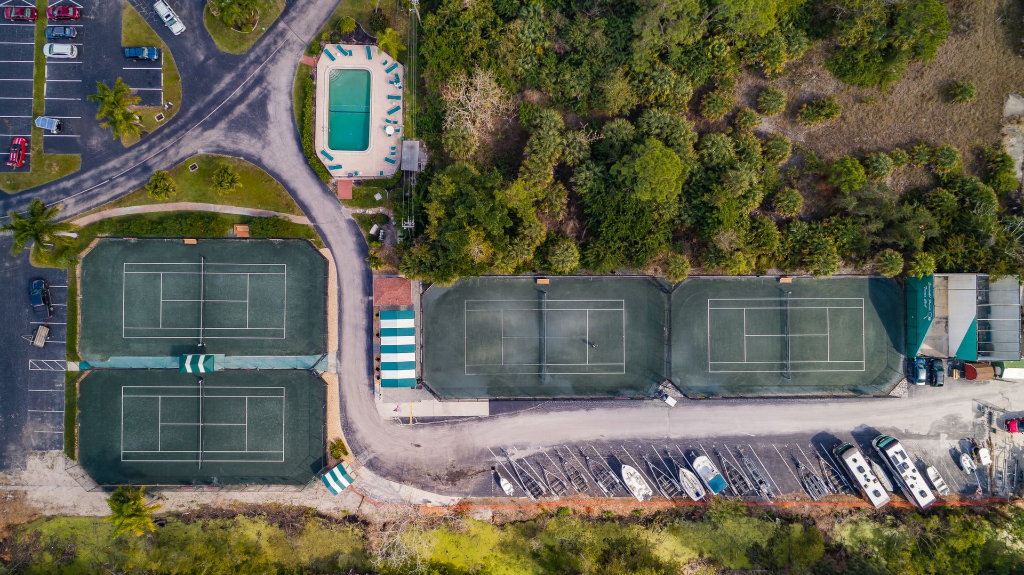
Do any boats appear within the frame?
Yes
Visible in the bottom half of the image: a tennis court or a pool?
tennis court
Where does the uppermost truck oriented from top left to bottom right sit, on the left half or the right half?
left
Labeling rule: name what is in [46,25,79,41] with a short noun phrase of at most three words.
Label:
car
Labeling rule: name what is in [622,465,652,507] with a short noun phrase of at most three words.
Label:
boat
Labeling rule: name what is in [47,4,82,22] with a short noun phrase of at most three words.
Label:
car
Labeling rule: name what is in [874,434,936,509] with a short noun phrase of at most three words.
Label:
camper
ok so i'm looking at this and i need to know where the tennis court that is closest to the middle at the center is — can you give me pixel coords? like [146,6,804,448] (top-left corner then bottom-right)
[423,277,666,400]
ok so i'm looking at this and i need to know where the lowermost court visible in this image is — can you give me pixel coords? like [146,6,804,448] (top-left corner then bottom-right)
[80,370,323,486]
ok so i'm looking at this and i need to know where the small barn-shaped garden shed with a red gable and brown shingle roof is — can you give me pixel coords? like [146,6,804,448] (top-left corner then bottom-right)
[966,363,1004,383]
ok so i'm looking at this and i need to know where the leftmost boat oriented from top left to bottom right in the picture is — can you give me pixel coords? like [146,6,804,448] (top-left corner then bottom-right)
[501,478,514,496]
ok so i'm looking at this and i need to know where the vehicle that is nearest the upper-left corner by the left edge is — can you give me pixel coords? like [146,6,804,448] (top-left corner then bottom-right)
[5,5,41,22]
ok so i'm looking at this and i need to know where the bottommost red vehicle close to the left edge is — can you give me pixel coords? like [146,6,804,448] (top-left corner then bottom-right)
[7,135,30,169]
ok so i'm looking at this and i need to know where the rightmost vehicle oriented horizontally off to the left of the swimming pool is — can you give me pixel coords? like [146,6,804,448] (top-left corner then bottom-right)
[125,45,160,62]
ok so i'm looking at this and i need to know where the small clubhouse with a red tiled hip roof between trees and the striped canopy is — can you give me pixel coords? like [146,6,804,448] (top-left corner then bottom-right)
[374,277,412,306]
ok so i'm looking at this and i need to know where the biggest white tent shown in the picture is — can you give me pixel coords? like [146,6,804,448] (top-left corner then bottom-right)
[322,460,357,495]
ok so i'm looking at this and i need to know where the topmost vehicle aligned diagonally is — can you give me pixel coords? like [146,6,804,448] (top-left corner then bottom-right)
[152,0,186,36]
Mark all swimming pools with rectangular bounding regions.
[315,44,402,178]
